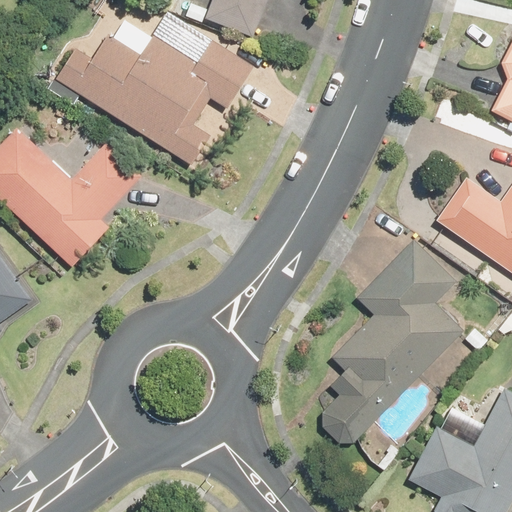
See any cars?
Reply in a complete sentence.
Yes, a car can be made out from above.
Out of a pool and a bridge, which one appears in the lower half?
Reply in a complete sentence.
You can see a pool in the lower half.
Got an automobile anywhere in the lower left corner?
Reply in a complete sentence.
No, the scene shows no automobile in the lower left corner.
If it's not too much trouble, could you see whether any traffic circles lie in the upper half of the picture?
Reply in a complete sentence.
No, no traffic circle is visible in the upper half of the picture.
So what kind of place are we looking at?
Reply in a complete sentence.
The picture captures a residential area.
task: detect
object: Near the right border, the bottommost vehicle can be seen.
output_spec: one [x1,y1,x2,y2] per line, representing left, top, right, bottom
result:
[477,168,502,197]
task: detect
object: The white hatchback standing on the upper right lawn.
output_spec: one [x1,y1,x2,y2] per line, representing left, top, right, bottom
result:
[464,25,494,48]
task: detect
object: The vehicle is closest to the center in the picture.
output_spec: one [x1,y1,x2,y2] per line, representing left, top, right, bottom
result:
[285,150,306,180]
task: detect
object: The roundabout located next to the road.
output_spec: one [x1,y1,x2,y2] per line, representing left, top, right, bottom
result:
[136,345,215,422]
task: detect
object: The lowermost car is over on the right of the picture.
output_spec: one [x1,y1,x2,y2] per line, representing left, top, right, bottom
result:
[374,213,405,238]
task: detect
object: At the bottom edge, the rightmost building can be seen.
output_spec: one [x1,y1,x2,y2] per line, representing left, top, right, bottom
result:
[408,388,512,512]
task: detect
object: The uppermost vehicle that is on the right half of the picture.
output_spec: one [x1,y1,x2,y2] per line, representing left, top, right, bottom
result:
[352,0,372,26]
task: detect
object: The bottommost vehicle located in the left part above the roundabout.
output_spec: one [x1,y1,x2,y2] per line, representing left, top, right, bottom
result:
[128,190,160,206]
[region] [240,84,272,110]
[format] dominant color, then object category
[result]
white car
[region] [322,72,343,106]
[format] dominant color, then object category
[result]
white car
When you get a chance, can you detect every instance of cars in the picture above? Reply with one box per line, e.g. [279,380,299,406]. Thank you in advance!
[322,72,343,106]
[128,190,160,206]
[470,78,502,96]
[240,84,272,110]
[285,150,306,180]
[352,0,372,26]
[477,168,502,197]
[490,149,512,168]
[464,25,494,48]
[236,47,264,68]
[374,213,405,238]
